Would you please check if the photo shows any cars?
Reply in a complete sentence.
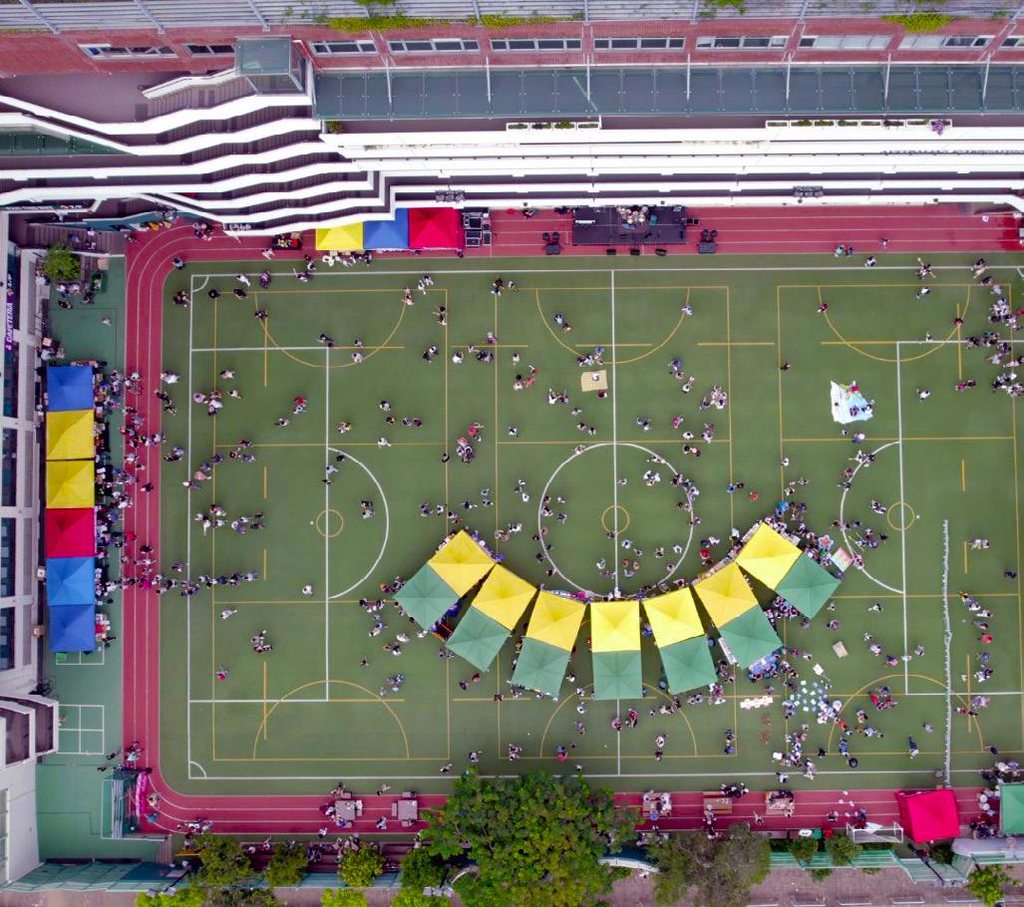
No, there is no car in the image.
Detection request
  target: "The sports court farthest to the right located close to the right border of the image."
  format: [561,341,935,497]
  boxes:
[776,282,1024,757]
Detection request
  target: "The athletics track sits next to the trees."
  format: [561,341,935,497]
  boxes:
[122,178,1024,835]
